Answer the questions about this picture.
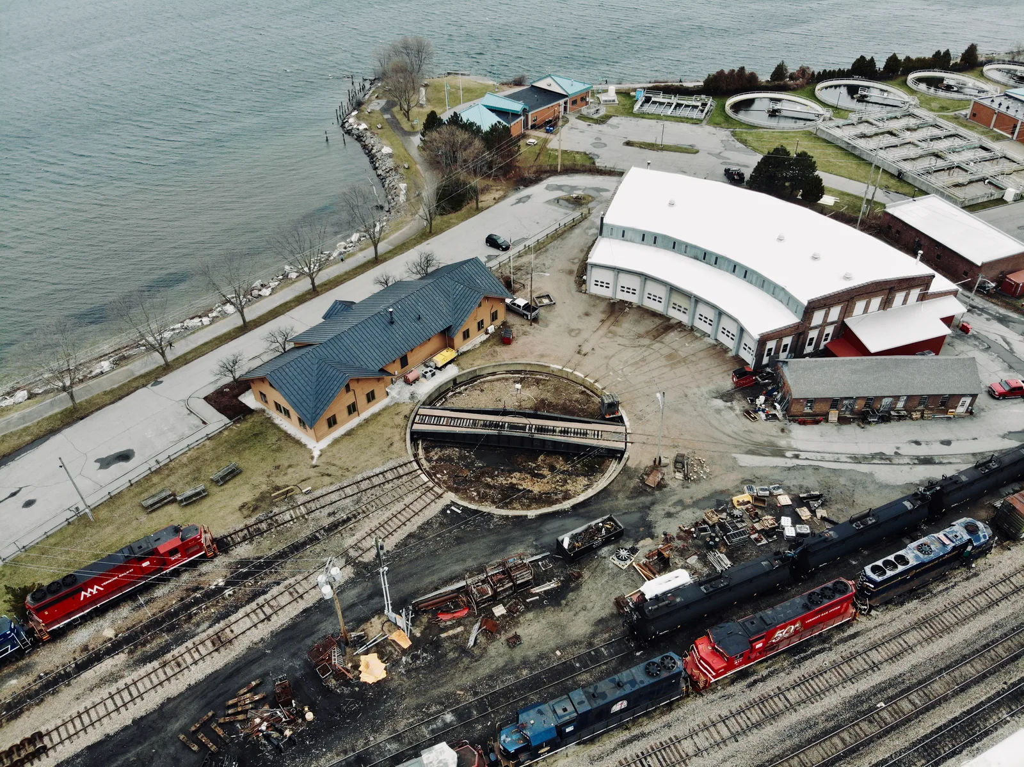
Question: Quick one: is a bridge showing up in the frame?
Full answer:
Yes, looking at the shot, I can spot a bridge.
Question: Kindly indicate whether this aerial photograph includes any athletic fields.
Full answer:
No, this view has no athletic field in it.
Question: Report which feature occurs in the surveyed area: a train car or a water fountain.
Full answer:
The image shows a train car.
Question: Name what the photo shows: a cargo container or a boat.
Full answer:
Looking from above, you can make out a cargo container.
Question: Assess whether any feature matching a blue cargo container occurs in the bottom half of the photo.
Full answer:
No, looking in the bottom half of the photo, there is no blue cargo container.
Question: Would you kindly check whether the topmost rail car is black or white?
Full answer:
From above, the topmost rail car appears black.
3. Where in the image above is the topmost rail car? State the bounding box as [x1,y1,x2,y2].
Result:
[925,440,1024,513]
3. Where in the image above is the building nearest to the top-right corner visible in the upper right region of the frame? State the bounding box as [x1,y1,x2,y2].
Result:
[969,84,1024,140]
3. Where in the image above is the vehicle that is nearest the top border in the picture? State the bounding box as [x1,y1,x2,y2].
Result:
[723,167,748,183]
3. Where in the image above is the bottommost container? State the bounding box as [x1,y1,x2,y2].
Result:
[552,513,624,563]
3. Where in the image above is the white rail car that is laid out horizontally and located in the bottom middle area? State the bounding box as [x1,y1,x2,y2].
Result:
[403,740,497,767]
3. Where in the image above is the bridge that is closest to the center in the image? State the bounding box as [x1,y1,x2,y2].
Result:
[407,388,626,459]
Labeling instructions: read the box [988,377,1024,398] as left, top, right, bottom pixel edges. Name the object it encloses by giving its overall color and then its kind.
red truck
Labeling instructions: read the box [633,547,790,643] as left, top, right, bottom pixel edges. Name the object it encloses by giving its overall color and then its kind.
black rail car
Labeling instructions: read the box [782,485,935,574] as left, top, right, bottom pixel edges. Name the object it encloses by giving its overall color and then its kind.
black rail car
